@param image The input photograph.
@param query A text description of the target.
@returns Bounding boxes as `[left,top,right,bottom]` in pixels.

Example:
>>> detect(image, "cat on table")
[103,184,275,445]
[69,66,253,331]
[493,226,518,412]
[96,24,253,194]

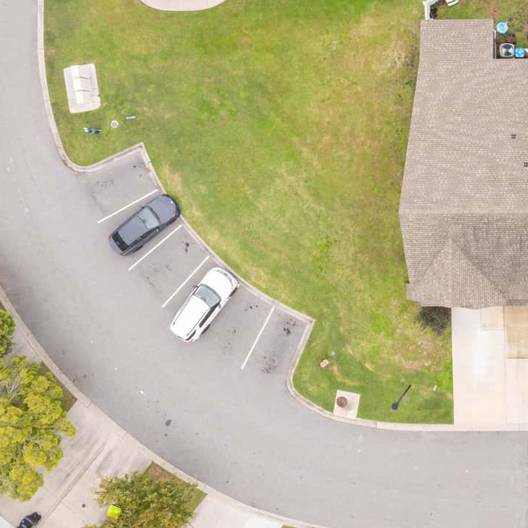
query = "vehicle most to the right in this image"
[170,266,243,344]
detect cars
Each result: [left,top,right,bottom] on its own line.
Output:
[107,198,186,258]
[170,266,243,344]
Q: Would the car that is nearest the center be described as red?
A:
No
